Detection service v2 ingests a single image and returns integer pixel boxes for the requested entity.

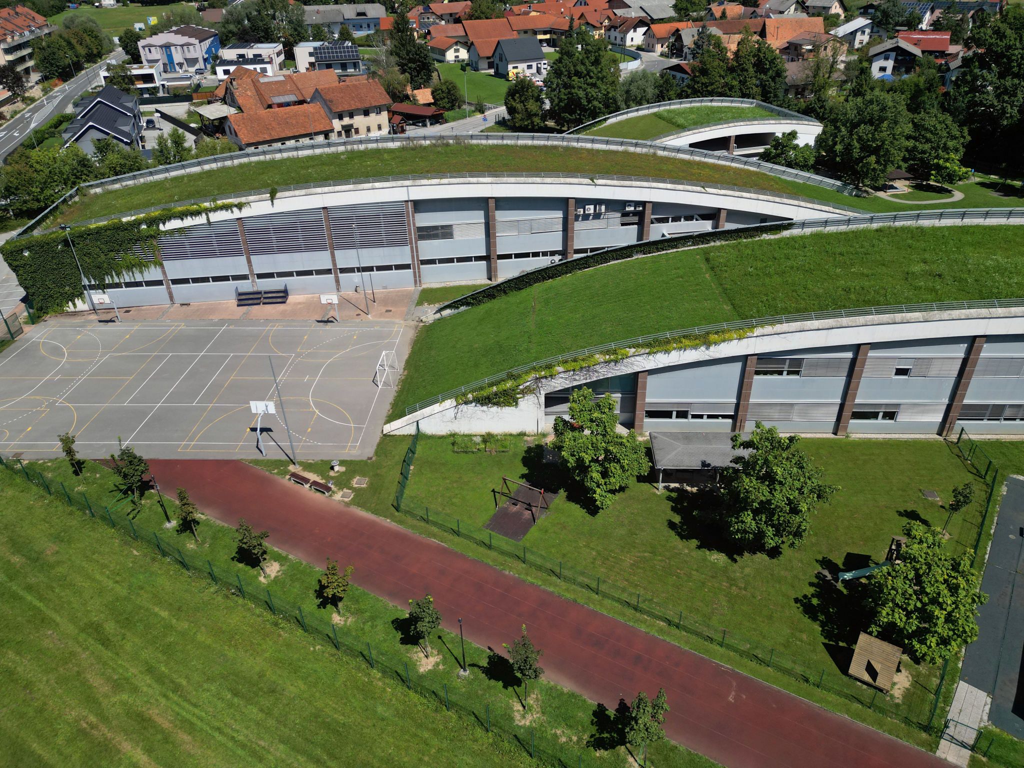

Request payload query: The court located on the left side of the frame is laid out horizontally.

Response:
[0,320,426,459]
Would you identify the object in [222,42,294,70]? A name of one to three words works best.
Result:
house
